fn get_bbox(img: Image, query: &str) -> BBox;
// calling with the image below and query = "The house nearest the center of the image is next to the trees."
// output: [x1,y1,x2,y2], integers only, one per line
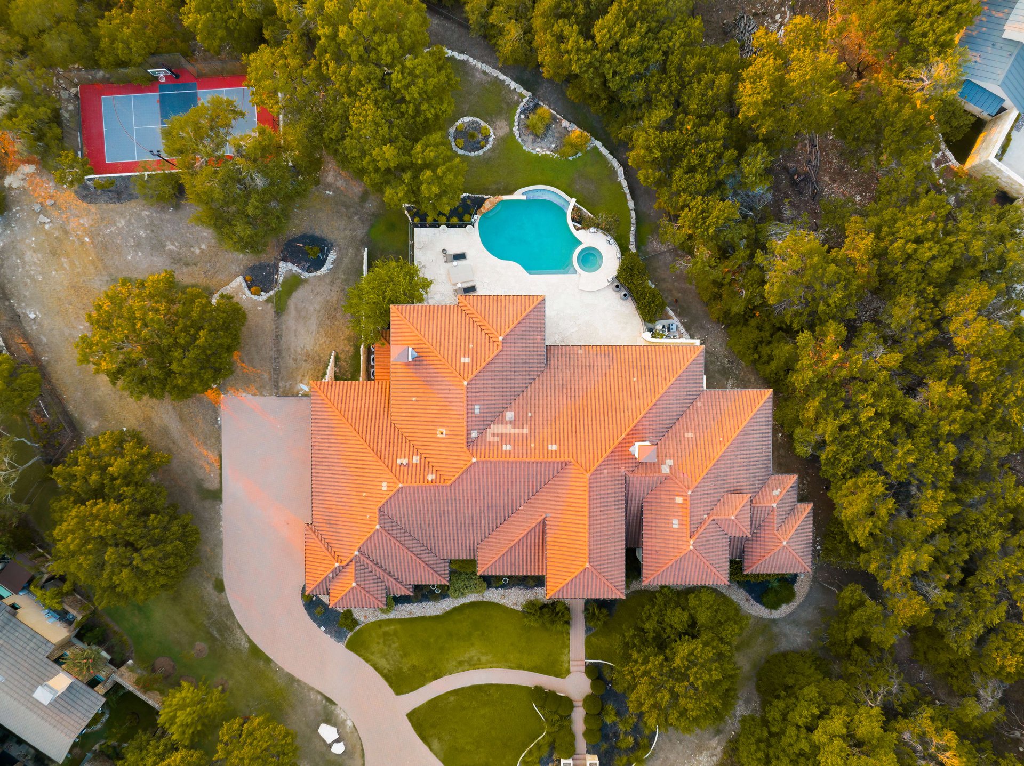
[303,294,814,610]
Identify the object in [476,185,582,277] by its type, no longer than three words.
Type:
swimming pool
